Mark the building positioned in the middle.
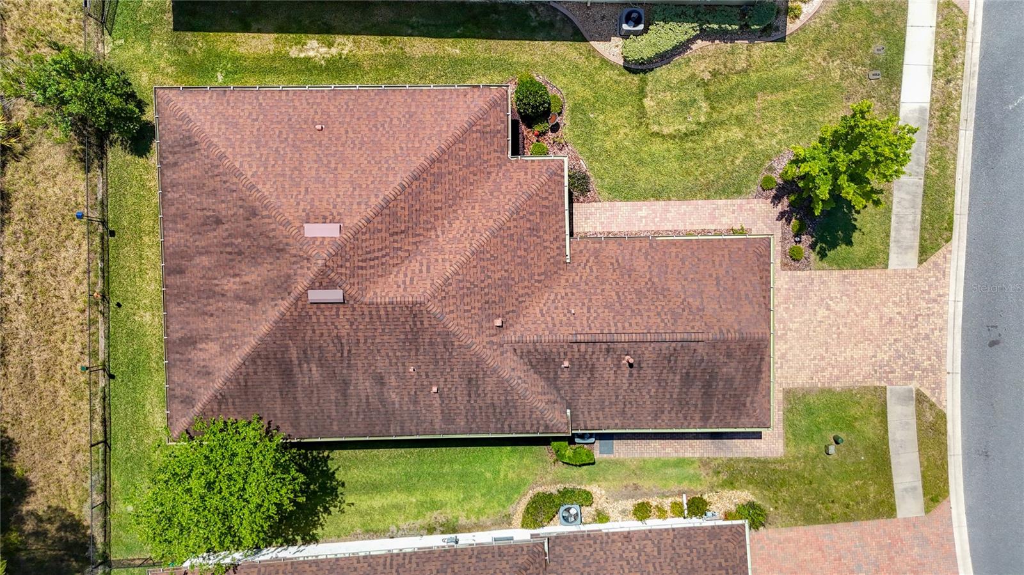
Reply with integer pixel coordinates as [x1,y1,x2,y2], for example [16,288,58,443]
[154,84,776,444]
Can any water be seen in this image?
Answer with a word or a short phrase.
No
